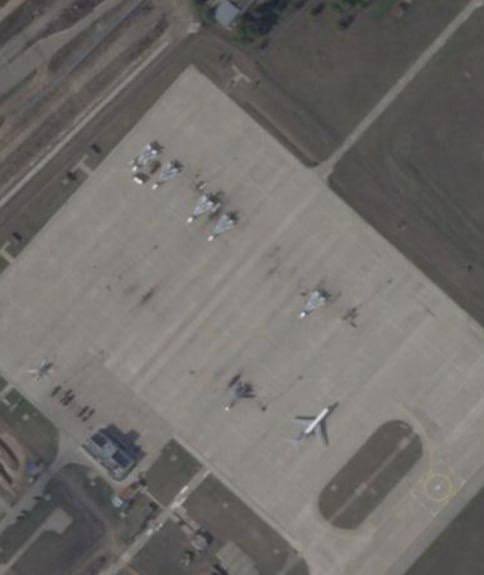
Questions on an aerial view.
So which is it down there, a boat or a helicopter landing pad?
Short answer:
helicopter landing pad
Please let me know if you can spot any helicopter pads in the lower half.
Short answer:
Yes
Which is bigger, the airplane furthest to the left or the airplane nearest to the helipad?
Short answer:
the airplane nearest to the helipad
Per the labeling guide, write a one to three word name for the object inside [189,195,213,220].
airplane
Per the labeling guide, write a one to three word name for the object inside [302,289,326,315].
airplane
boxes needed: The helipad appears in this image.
[409,457,464,515]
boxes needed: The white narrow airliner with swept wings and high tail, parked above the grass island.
[291,407,331,446]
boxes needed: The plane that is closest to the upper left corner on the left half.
[134,143,158,169]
